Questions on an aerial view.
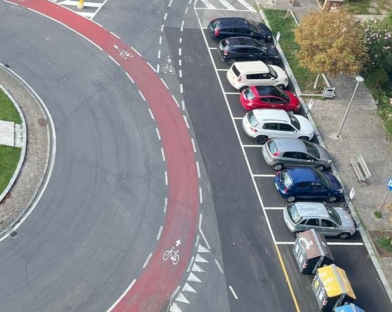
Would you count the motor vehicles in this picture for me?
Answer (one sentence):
There are 8 motor vehicles in the image.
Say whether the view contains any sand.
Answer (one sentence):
No, sand can't be seen anywhere here.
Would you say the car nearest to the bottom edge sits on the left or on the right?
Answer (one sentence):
It is on the right.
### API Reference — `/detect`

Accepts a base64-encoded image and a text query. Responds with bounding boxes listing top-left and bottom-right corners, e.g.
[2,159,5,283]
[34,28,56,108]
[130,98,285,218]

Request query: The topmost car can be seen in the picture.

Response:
[205,11,273,41]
